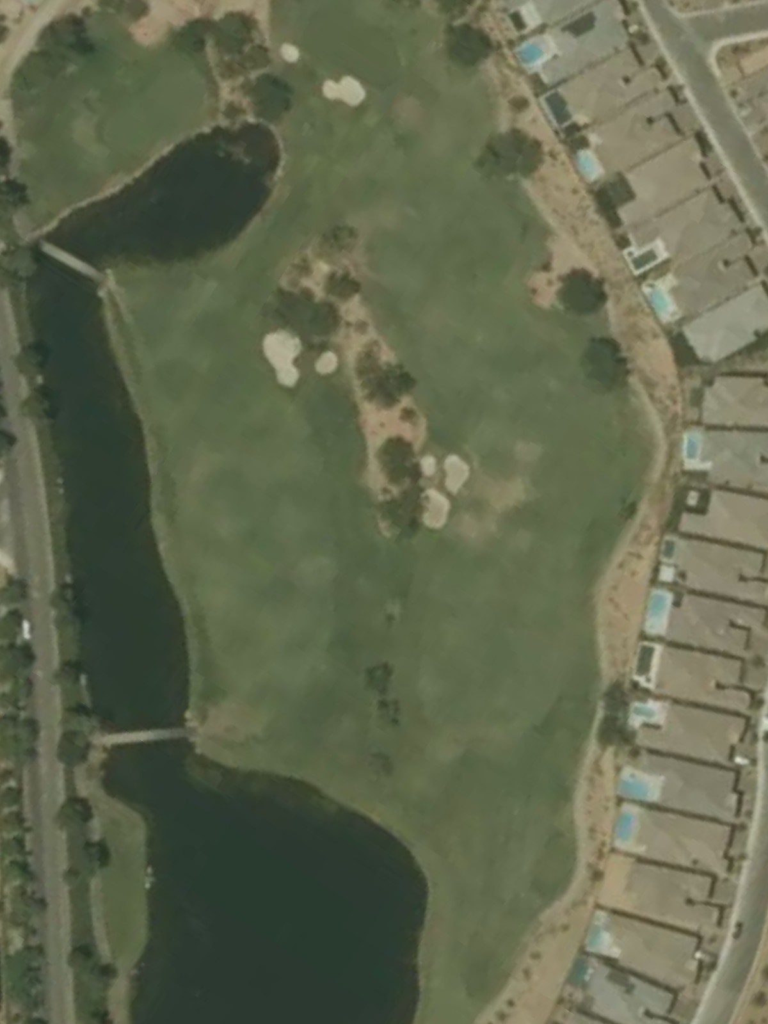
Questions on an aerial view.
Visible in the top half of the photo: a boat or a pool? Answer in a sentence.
There is a pool in the top half of the photo.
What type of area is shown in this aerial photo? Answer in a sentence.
What you see here is a golf course.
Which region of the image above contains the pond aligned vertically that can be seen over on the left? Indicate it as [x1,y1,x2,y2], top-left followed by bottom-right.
[26,119,429,1024]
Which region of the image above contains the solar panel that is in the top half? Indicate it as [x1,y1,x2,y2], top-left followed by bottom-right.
[563,13,597,39]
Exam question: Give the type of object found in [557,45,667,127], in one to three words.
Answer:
house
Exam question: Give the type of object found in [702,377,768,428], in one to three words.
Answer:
house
